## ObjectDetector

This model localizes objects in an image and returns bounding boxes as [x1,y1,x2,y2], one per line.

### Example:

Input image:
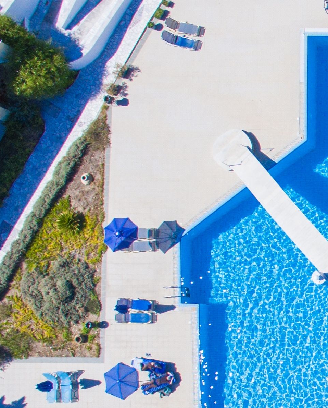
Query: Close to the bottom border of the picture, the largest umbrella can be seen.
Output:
[105,361,144,399]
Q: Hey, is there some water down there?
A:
Yes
